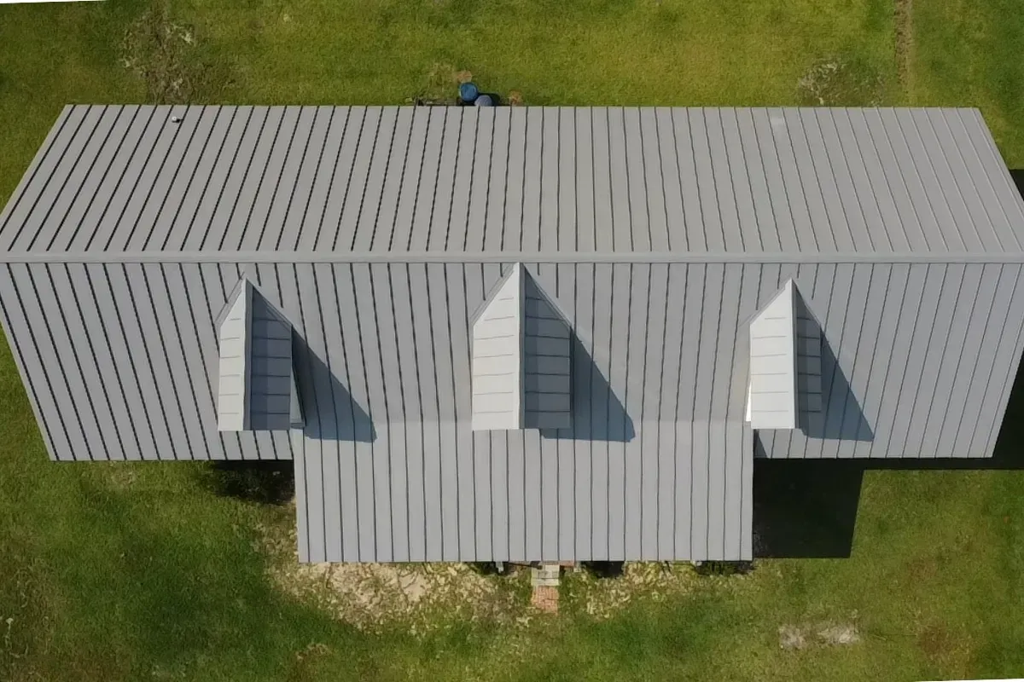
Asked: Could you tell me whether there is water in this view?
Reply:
No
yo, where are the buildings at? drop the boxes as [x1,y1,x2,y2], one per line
[0,104,1024,565]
